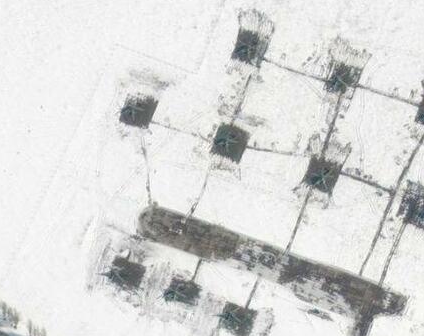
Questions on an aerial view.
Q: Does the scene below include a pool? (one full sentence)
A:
No, I find no pool anywhere in the image.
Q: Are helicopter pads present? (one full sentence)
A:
Yes, a helicopter pad can be made out from above.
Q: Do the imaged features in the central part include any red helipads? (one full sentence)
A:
No, I see no red helipad in the central part.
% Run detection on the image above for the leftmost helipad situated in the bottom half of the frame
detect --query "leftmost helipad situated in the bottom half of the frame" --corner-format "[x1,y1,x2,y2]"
[109,254,148,288]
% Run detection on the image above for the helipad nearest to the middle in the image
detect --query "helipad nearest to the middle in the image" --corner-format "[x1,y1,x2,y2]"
[209,125,251,175]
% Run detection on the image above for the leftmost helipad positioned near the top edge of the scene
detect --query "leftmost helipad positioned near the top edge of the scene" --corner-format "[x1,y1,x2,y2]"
[226,5,276,76]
